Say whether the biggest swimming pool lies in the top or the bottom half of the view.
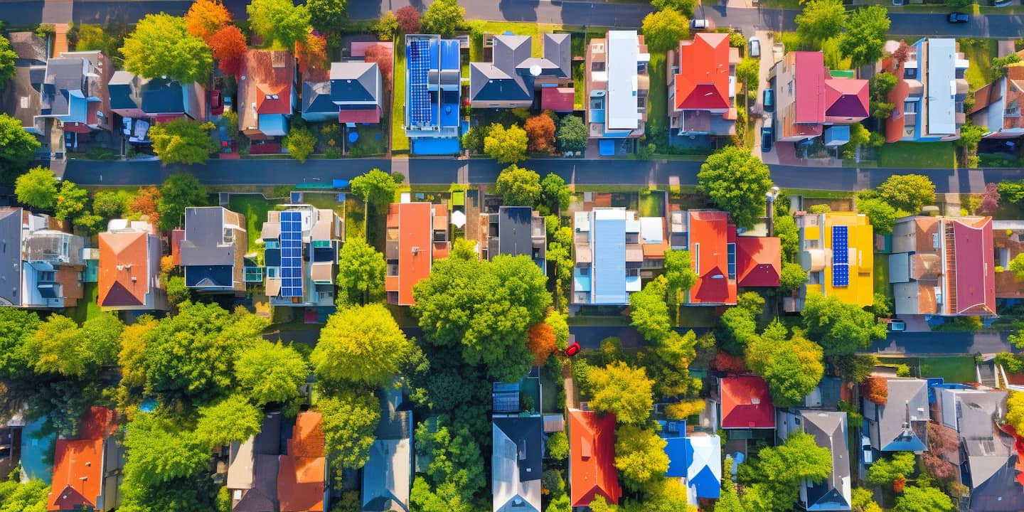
bottom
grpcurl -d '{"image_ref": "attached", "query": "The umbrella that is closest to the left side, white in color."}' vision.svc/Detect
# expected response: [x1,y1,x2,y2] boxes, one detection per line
[452,212,466,225]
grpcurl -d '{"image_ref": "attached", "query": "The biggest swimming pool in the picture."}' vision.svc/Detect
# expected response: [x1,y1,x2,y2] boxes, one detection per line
[23,412,58,490]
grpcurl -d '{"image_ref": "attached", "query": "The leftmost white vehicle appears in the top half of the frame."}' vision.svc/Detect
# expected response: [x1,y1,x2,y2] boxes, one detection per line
[690,16,712,28]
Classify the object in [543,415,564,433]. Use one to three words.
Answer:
shed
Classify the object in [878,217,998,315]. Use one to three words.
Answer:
house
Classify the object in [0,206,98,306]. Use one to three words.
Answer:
house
